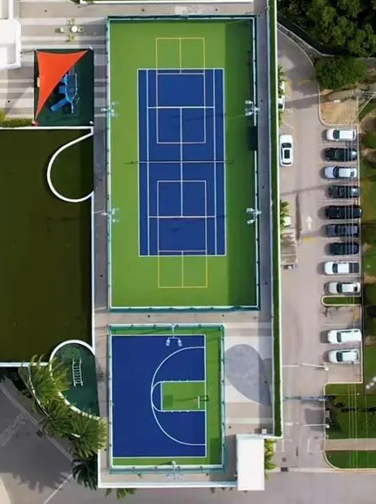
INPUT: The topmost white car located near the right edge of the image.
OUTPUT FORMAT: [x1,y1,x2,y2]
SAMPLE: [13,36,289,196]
[324,127,358,143]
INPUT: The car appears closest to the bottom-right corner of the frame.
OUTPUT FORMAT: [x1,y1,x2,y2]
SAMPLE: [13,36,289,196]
[327,348,362,365]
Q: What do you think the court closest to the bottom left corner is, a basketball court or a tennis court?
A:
basketball court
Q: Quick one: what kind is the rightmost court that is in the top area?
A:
tennis court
